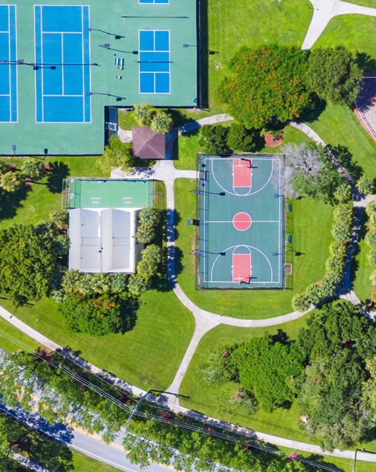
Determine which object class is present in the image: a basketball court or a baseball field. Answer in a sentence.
This aerial view contains a basketball court.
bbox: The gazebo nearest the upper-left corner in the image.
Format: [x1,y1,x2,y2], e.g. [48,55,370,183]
[132,127,170,159]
